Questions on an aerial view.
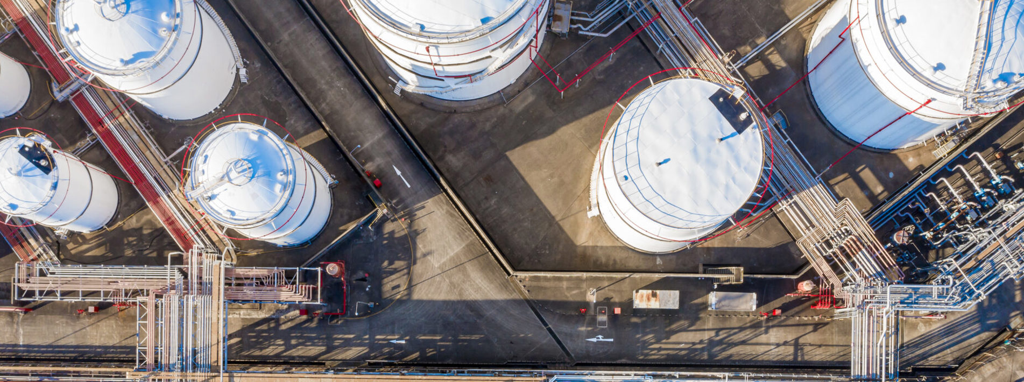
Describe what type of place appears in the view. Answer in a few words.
industrial area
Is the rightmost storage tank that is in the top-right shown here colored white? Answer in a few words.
Yes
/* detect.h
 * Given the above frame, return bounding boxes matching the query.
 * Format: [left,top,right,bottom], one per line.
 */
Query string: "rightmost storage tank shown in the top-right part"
[760,0,1024,176]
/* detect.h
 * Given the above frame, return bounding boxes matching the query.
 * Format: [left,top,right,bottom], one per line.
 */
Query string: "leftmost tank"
[0,51,44,120]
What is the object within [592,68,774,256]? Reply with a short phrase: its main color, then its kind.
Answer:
white storage tank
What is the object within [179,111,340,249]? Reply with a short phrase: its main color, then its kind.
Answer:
white storage tank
